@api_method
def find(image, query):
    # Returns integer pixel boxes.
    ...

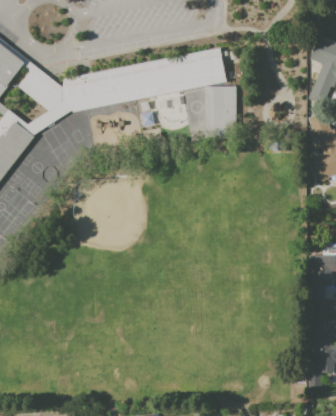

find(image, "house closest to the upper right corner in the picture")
[308,38,336,95]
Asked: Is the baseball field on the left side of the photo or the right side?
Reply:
left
